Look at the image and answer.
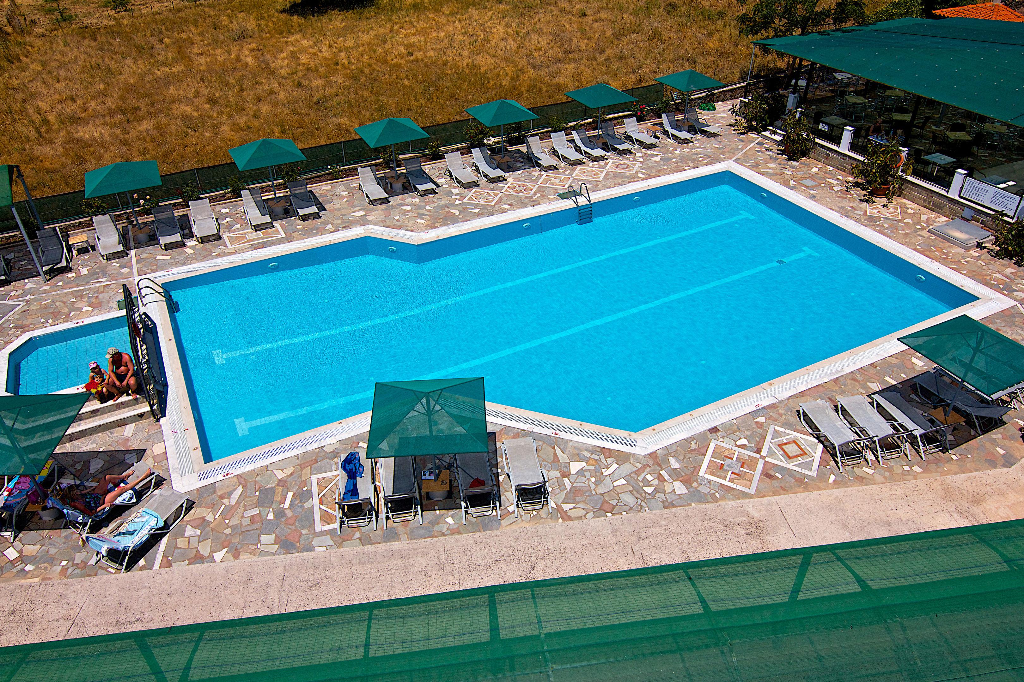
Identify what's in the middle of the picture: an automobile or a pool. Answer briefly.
pool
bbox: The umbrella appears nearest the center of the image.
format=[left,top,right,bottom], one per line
[367,378,489,481]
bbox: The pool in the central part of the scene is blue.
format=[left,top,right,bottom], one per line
[135,162,1017,495]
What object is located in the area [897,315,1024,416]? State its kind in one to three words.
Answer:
umbrella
